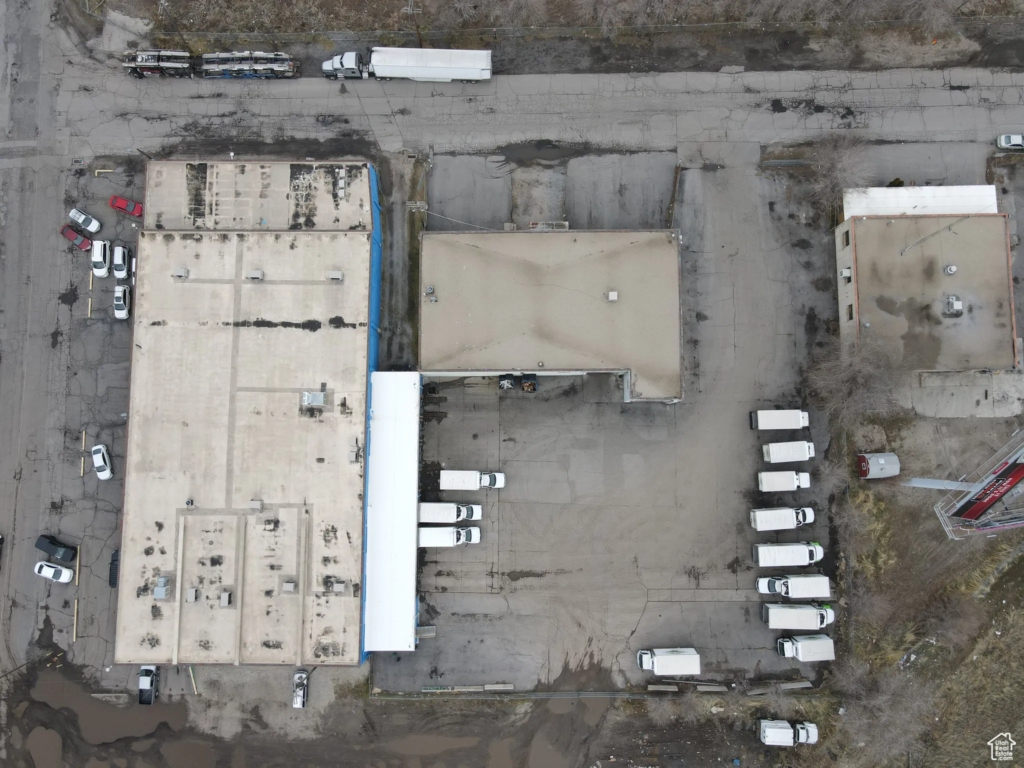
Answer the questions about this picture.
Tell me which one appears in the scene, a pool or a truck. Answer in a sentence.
There is a truck in the scene.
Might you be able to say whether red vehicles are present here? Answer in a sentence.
Yes, this view includes a red vehicle.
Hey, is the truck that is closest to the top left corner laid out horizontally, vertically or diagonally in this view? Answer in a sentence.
From this overhead view, the truck that is closest to the top left corner appears to run horizontally.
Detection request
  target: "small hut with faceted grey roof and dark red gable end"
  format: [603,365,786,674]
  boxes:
[858,452,910,480]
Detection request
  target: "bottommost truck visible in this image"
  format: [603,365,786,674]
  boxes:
[743,717,815,745]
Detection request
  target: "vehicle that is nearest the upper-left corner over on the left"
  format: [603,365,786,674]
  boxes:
[121,52,207,84]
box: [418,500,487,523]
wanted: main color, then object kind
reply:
white truck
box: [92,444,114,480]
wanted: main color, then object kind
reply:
white car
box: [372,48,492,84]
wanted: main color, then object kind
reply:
white trailer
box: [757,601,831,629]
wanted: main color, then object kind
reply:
white truck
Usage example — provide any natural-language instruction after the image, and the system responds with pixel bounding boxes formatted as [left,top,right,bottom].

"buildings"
[419,230,683,407]
[858,452,910,480]
[836,214,1018,375]
[115,181,381,665]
